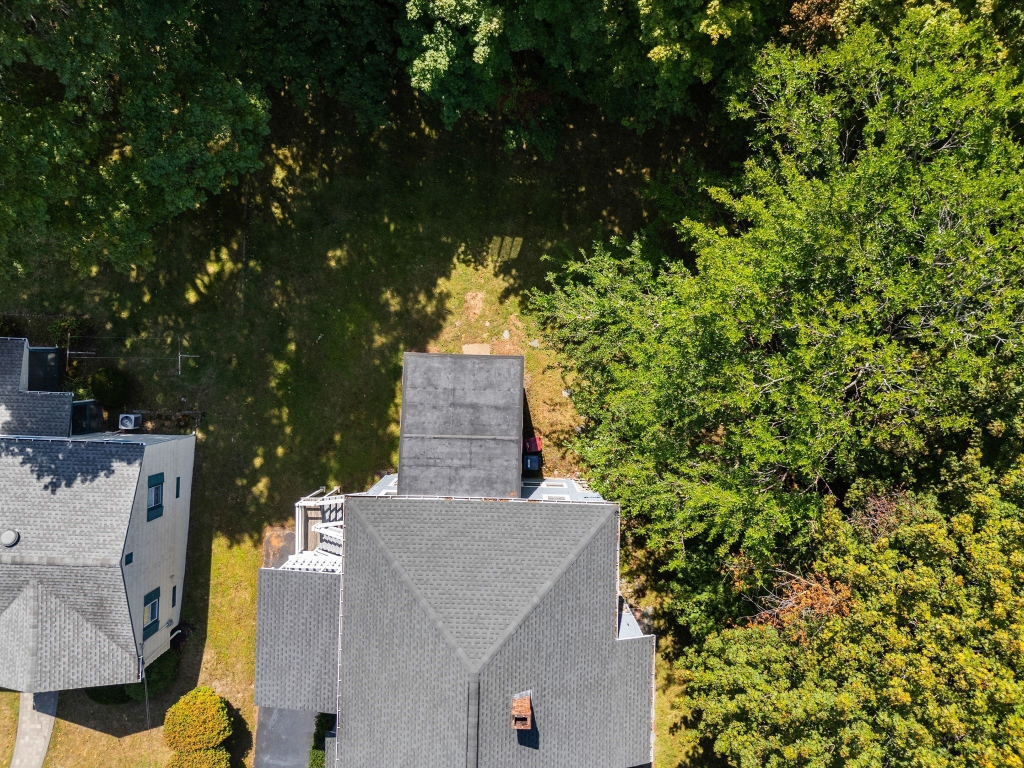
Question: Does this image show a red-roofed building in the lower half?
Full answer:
No, in the lower half there is no red-roofed building.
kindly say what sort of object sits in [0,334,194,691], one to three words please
house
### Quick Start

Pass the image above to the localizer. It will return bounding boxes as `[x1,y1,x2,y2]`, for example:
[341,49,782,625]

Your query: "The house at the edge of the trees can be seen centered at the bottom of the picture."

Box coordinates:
[256,353,657,768]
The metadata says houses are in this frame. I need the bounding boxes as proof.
[0,334,194,691]
[256,353,657,768]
